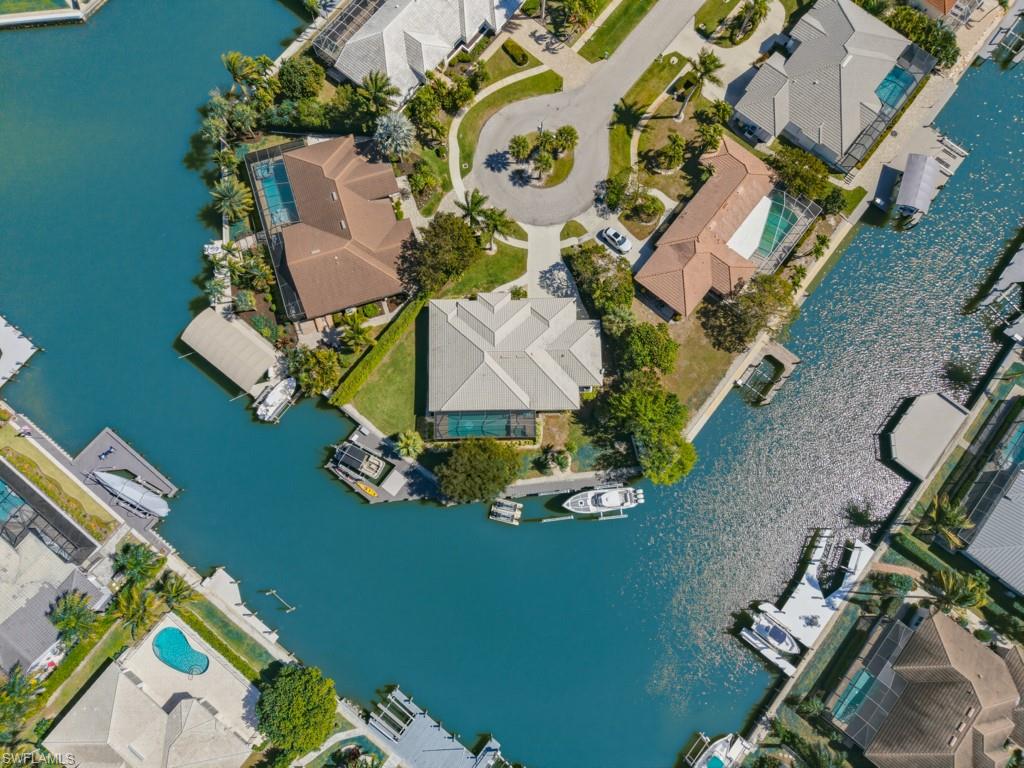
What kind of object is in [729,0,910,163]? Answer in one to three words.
house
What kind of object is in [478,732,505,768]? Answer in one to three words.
pier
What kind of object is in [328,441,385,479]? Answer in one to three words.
boat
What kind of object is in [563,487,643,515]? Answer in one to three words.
boat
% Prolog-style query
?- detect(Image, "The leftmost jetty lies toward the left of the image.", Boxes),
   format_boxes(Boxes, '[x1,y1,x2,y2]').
[0,314,43,392]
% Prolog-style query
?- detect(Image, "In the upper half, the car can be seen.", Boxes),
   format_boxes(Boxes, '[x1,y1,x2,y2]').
[600,226,633,254]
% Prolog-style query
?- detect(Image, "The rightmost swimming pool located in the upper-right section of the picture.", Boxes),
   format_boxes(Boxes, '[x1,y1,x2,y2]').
[846,44,935,158]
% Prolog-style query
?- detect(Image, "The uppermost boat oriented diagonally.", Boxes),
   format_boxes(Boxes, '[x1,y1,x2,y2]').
[251,377,293,425]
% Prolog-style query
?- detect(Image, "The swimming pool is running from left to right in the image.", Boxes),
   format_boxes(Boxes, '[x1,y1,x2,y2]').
[436,409,534,438]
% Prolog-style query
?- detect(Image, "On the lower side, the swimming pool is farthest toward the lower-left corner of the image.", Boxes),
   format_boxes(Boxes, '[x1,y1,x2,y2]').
[151,624,211,677]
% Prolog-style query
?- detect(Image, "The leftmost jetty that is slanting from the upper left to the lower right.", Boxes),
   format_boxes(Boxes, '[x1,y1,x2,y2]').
[12,414,179,557]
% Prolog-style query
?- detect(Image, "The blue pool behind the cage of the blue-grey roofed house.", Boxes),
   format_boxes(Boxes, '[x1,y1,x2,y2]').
[956,425,1024,534]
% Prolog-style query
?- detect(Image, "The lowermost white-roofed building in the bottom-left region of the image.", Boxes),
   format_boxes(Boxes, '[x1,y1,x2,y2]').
[42,658,261,768]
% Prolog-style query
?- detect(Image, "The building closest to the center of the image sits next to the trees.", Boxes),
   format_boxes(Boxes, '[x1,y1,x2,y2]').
[429,293,603,411]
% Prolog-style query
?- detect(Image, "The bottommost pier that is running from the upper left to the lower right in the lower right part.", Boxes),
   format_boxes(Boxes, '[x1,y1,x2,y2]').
[763,645,798,676]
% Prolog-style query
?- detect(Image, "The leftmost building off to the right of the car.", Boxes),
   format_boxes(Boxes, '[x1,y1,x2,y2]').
[633,137,777,316]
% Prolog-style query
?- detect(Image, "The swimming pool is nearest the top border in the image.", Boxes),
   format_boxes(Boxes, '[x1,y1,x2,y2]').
[317,0,385,59]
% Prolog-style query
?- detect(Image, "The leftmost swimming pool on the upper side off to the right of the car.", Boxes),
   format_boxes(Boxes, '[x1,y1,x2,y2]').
[743,189,819,273]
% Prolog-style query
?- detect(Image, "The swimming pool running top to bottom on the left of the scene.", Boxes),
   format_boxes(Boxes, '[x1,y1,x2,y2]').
[247,142,318,318]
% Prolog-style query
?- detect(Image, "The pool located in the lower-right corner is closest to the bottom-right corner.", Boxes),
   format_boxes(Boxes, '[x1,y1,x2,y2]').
[827,626,895,735]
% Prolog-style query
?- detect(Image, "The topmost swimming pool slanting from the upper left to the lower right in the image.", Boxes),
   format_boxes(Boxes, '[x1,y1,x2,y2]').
[0,477,86,557]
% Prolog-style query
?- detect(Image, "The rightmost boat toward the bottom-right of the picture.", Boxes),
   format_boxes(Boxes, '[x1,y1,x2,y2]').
[748,611,804,656]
